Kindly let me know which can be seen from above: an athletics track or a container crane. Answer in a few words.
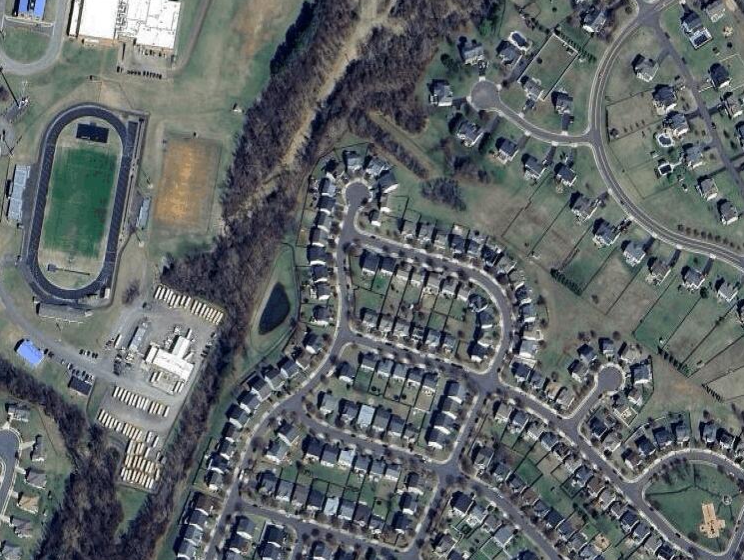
athletics track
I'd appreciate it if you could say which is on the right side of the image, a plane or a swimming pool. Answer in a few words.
swimming pool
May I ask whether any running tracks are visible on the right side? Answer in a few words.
No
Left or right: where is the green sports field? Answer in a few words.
left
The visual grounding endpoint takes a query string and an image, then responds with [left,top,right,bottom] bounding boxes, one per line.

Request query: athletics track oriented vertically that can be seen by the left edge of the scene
[24,107,135,299]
